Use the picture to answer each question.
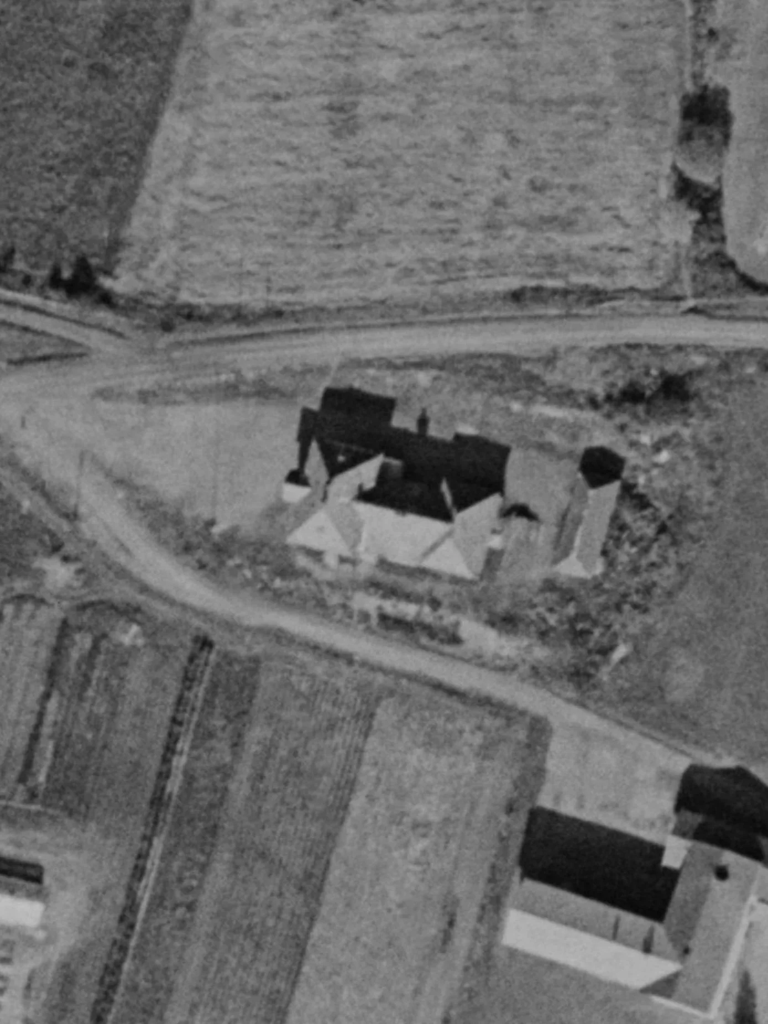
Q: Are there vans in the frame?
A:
No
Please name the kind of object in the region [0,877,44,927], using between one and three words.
shed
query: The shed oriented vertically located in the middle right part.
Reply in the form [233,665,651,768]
[553,470,623,578]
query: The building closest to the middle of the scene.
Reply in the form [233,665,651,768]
[283,436,503,580]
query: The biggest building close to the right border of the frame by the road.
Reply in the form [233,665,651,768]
[503,808,760,1019]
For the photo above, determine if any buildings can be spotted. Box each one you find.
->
[503,808,760,1019]
[283,436,503,580]
[0,877,44,927]
[553,470,623,578]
